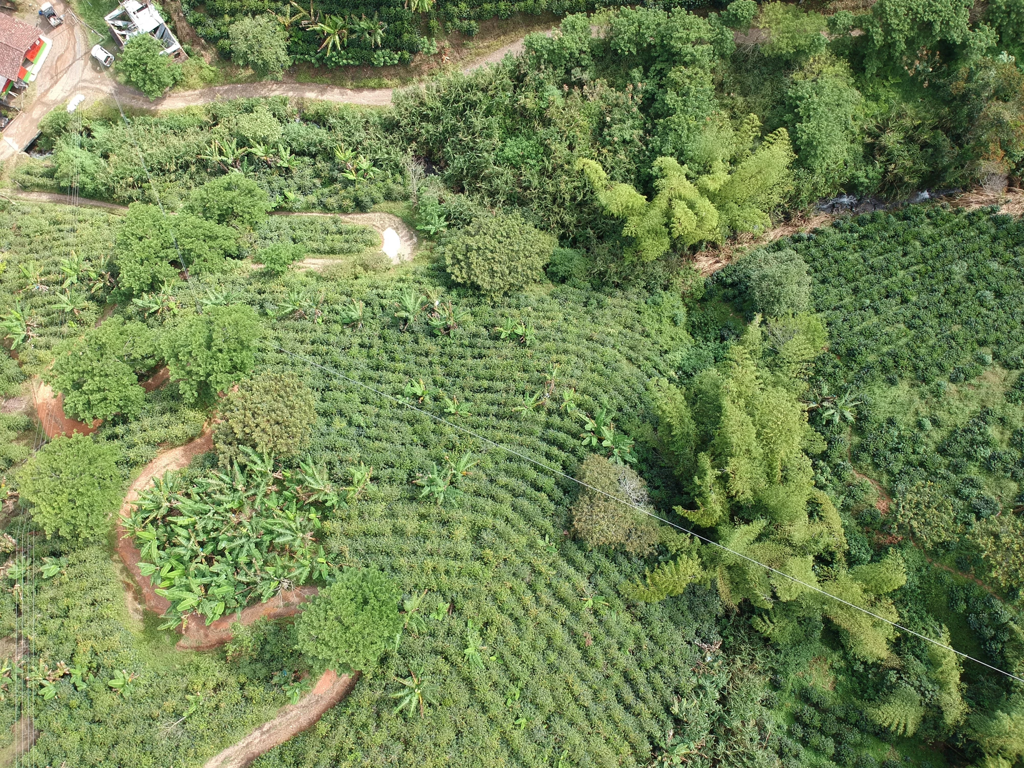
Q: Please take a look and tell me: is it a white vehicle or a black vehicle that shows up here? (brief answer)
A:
white vehicle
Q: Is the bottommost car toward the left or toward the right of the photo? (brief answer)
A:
left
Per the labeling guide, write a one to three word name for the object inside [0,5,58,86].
house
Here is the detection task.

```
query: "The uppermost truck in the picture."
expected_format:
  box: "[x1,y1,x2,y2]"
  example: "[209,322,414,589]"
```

[41,1,68,31]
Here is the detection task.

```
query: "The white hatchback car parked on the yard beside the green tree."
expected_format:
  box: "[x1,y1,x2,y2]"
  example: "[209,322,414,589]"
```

[90,45,118,71]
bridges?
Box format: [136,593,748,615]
[0,104,53,164]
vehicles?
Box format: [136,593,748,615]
[90,45,118,71]
[41,1,68,31]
